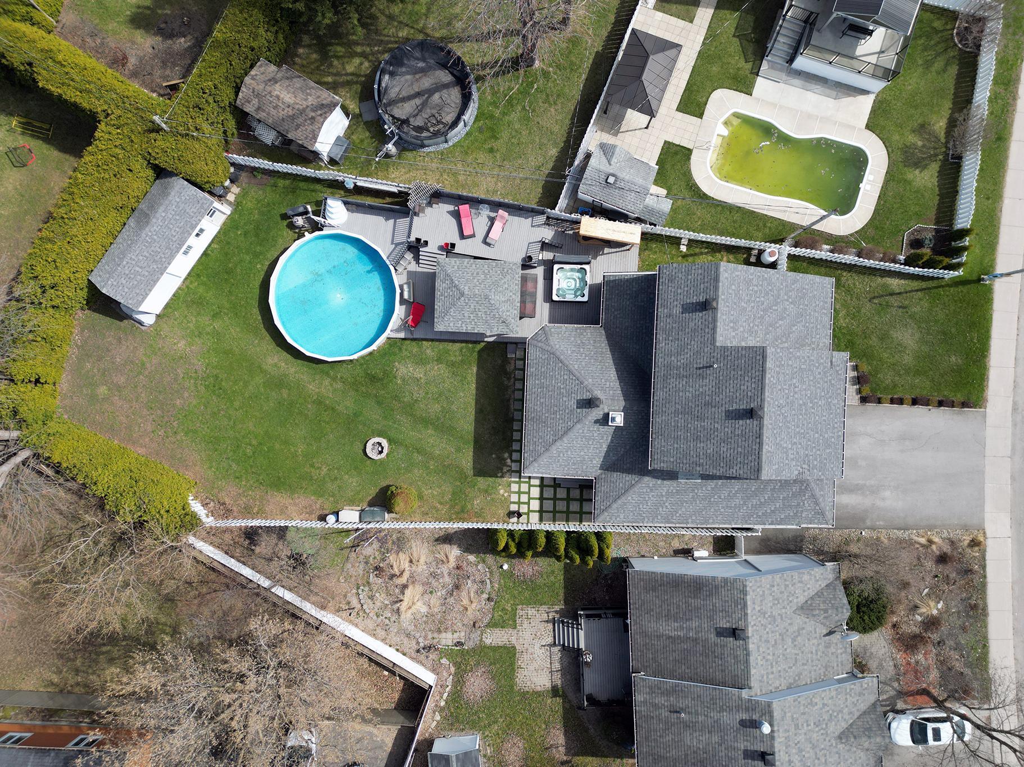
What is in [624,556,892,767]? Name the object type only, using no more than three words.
house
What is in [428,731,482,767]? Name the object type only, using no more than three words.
shed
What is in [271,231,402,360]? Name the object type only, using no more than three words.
swimming pool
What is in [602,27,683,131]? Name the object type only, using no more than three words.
gazebo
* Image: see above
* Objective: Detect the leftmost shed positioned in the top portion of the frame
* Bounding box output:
[90,170,237,311]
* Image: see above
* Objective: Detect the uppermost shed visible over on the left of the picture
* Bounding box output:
[236,58,349,160]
